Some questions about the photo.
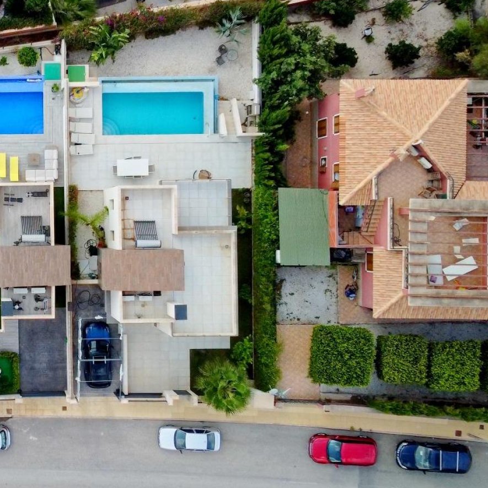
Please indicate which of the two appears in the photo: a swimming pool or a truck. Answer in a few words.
swimming pool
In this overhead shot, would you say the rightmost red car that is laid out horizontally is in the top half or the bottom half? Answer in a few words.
bottom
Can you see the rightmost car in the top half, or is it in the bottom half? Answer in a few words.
bottom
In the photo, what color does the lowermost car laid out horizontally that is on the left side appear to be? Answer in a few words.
white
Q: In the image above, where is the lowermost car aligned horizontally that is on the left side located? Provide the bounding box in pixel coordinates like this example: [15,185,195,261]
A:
[155,424,221,454]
